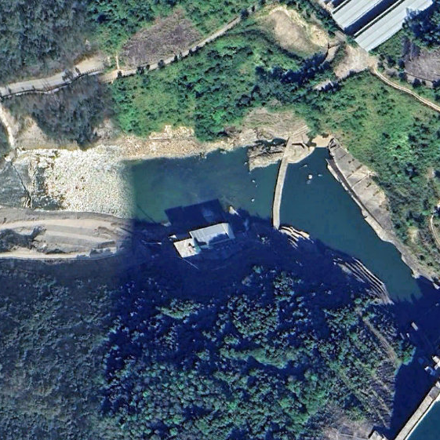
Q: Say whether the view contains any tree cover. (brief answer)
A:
Yes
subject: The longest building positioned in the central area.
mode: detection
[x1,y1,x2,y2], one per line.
[174,223,236,258]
